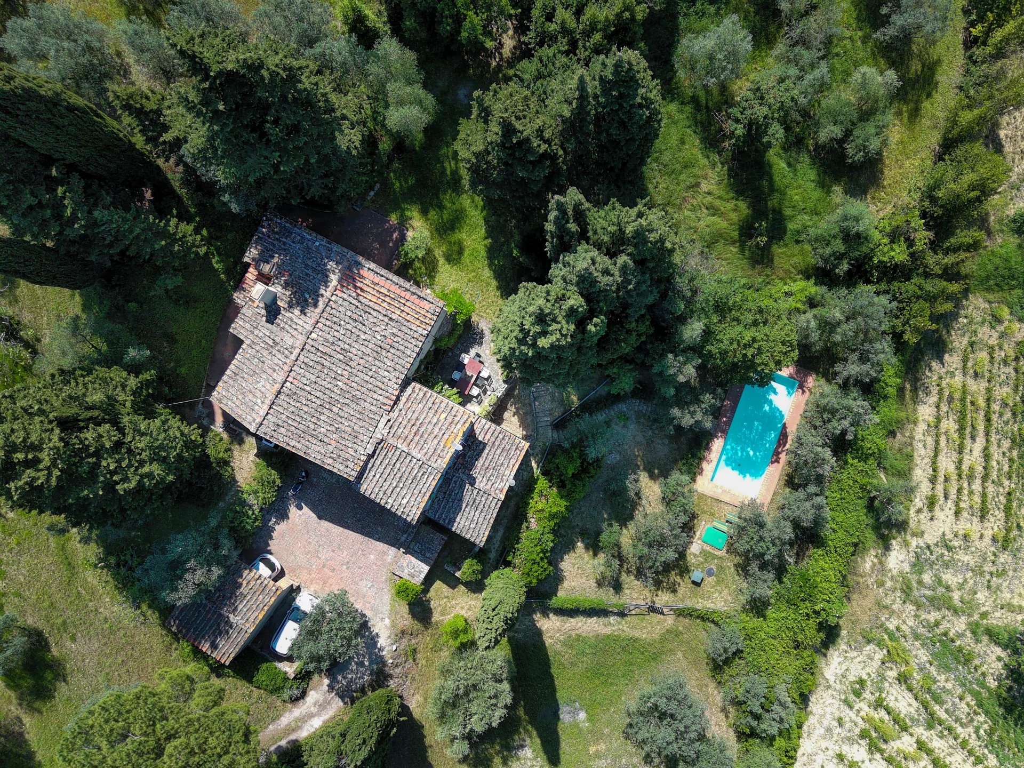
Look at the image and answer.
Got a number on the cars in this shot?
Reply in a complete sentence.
In total, 2 cars can be seen.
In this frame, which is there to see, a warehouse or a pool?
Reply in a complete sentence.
I can see a pool in this picture.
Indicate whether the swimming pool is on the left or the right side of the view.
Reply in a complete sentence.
It is on the right.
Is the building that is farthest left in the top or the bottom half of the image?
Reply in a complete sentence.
Seen from above, the building that is farthest left lies in the bottom half of the view.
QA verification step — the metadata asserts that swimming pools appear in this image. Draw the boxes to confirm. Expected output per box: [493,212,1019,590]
[697,350,815,511]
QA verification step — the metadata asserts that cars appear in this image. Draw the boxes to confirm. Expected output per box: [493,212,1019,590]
[274,581,329,657]
[254,550,289,580]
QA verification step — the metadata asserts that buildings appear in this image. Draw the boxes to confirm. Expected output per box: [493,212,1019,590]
[393,522,450,585]
[163,552,309,667]
[208,210,532,548]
